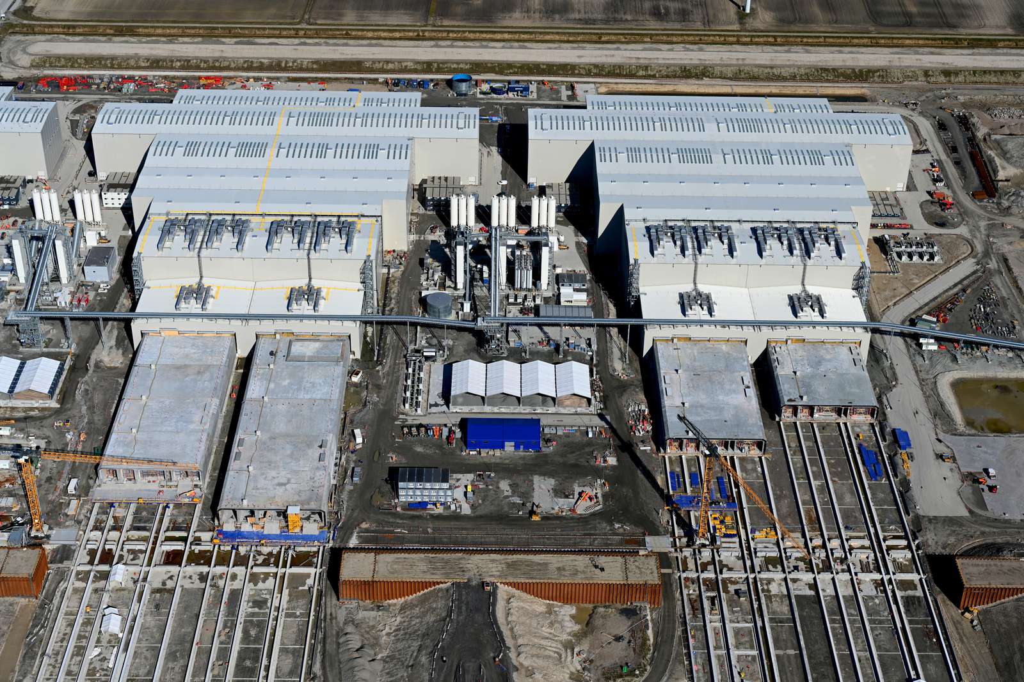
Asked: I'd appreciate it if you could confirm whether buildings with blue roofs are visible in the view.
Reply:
Yes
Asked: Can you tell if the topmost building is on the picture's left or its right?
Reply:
left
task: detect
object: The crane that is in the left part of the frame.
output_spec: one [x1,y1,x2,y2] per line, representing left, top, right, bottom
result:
[0,445,199,543]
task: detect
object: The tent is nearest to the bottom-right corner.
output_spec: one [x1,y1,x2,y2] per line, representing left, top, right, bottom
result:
[556,361,590,405]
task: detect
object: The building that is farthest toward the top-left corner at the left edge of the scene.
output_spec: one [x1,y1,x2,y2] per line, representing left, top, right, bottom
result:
[0,86,64,179]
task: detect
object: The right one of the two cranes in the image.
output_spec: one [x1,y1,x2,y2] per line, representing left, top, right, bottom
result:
[679,412,810,576]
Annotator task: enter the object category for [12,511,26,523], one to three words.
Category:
vehicle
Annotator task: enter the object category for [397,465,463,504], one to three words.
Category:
building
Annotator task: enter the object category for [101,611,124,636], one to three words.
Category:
tent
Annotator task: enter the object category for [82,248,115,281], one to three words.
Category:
building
